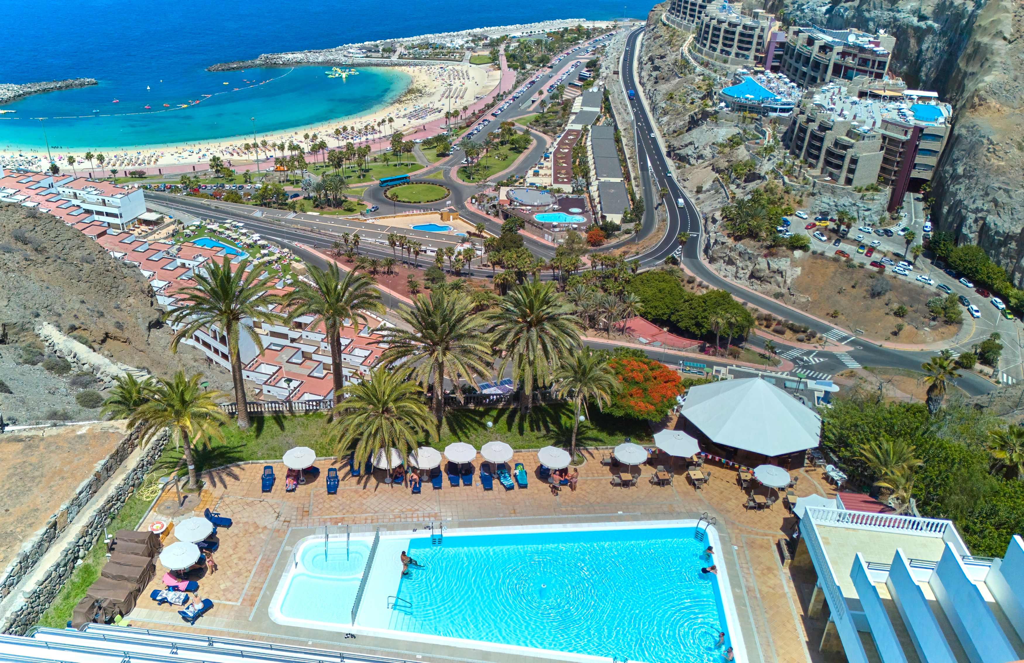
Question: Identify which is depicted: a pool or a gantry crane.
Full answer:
The image shows a pool.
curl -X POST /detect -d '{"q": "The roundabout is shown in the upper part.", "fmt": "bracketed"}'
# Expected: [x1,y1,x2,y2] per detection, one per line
[356,175,477,209]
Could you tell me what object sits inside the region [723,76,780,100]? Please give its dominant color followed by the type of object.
blue swimming pool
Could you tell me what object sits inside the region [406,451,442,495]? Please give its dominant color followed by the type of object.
white umbrella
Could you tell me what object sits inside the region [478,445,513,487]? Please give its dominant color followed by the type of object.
white umbrella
